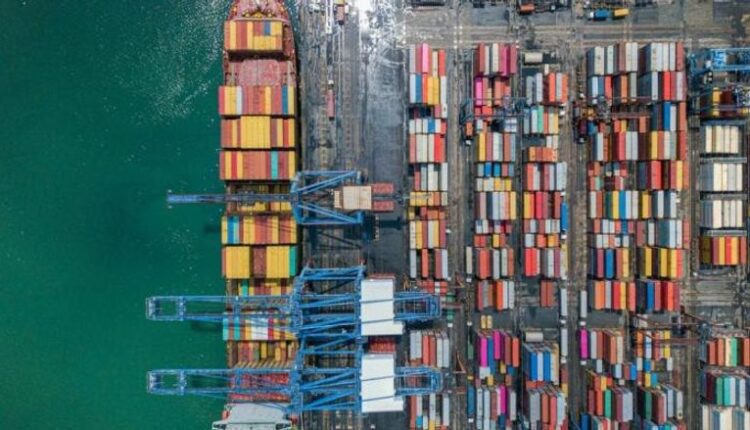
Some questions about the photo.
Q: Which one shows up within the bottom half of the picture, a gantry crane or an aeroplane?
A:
gantry crane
